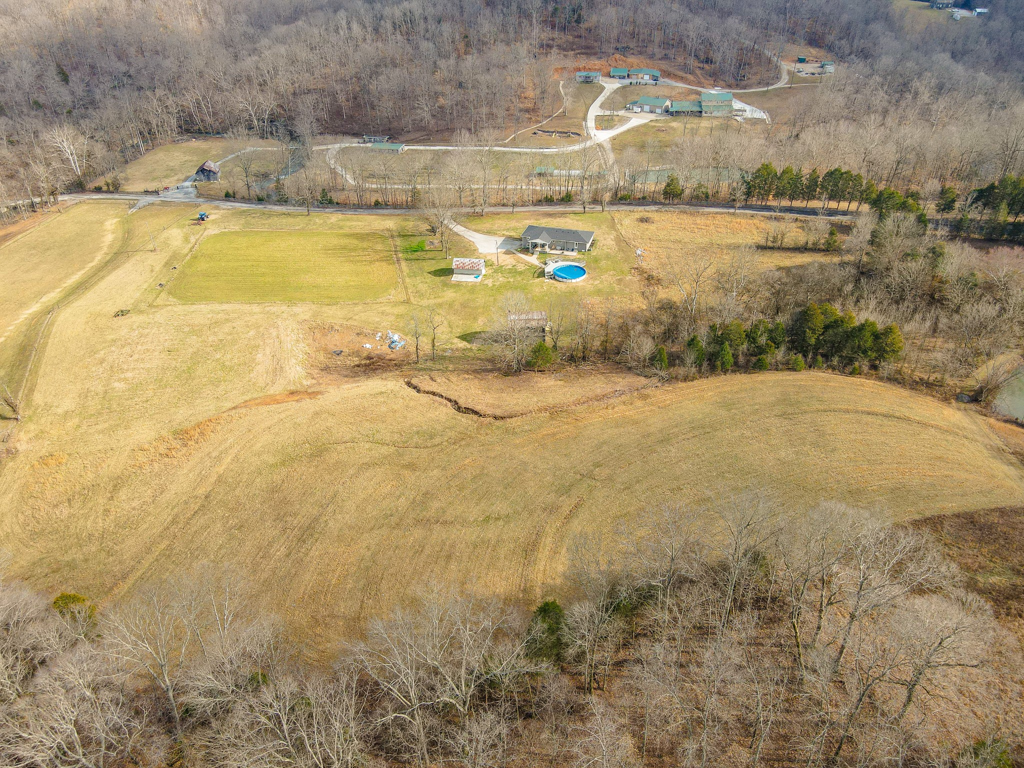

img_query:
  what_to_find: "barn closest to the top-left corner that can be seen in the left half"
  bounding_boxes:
[190,157,222,182]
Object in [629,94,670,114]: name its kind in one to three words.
building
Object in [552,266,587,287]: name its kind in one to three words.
swimming pool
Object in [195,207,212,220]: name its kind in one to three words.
vehicle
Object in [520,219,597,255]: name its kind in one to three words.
house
